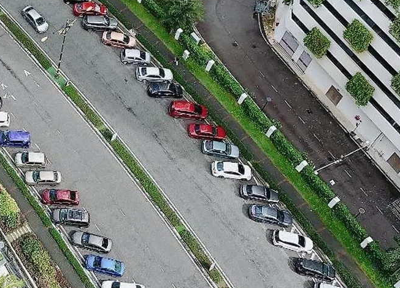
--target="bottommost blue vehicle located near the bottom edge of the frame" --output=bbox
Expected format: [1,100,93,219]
[80,251,125,278]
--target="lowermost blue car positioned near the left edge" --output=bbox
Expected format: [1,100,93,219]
[0,129,32,150]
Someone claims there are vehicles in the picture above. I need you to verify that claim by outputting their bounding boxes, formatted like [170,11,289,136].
[0,129,32,150]
[247,204,293,230]
[146,82,185,100]
[186,124,228,142]
[199,141,241,161]
[99,276,144,288]
[101,32,137,50]
[121,50,152,67]
[52,206,92,228]
[23,168,63,188]
[40,188,82,207]
[15,151,48,169]
[269,228,316,257]
[80,251,125,278]
[169,101,207,122]
[68,227,111,252]
[209,162,253,183]
[292,255,338,283]
[0,112,10,129]
[237,183,280,207]
[84,14,117,32]
[20,6,52,33]
[136,68,174,83]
